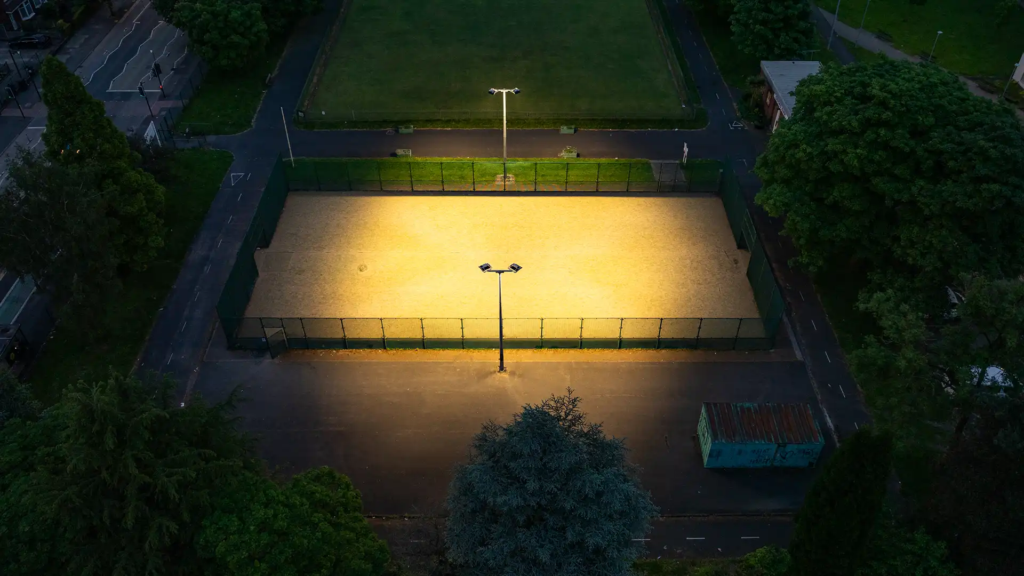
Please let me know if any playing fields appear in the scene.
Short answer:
Yes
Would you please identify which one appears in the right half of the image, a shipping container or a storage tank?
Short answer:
shipping container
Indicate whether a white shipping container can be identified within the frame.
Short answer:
No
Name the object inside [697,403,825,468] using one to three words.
shipping container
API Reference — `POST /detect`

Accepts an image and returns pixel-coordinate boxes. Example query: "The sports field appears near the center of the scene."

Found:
[235,194,768,349]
